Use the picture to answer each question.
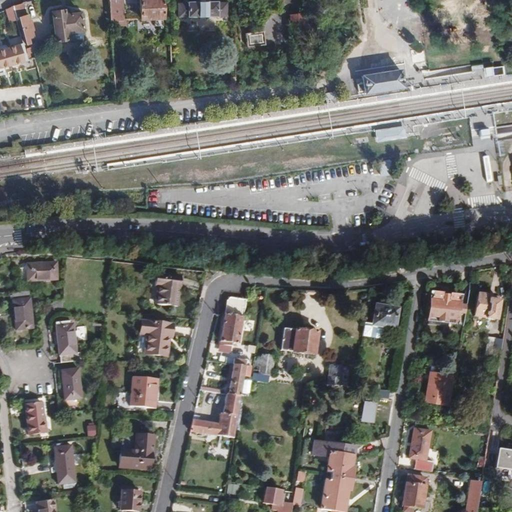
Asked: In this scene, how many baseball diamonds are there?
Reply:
none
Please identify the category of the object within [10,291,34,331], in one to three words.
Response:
house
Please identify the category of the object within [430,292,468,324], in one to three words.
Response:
house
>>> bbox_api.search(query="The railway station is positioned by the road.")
[24,68,512,170]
